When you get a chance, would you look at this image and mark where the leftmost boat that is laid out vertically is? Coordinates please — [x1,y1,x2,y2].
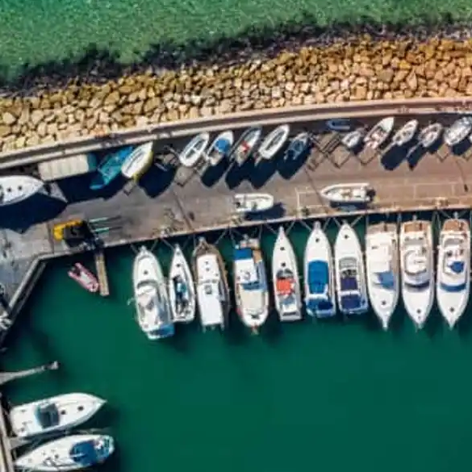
[129,237,173,339]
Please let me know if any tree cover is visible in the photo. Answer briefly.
No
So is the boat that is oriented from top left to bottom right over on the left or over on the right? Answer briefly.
left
